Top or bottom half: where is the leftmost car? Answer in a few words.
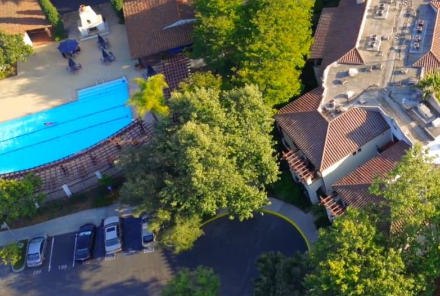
bottom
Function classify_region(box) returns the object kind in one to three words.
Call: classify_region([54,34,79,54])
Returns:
umbrella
